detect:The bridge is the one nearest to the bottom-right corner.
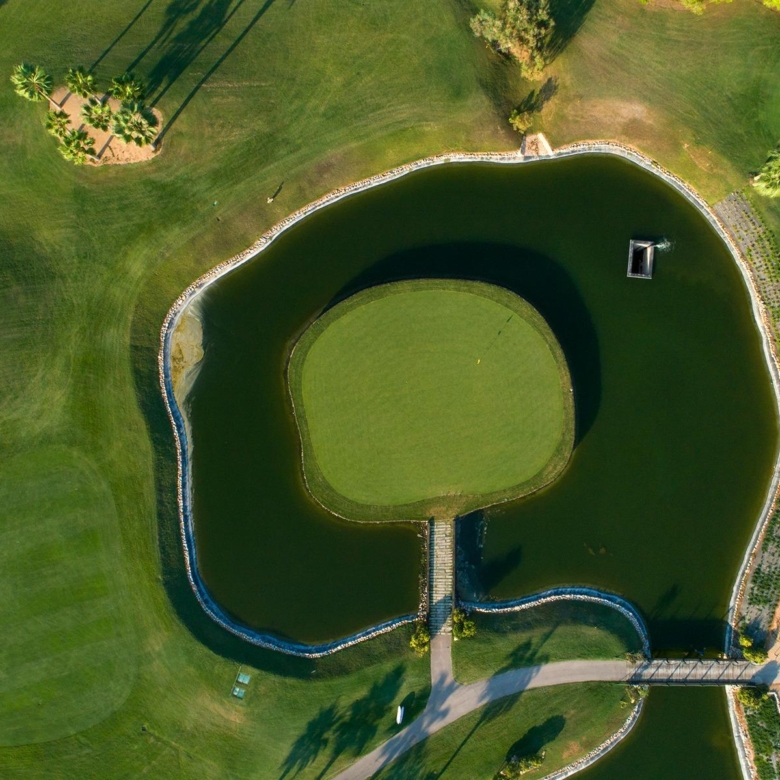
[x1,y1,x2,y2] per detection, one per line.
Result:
[630,657,761,687]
